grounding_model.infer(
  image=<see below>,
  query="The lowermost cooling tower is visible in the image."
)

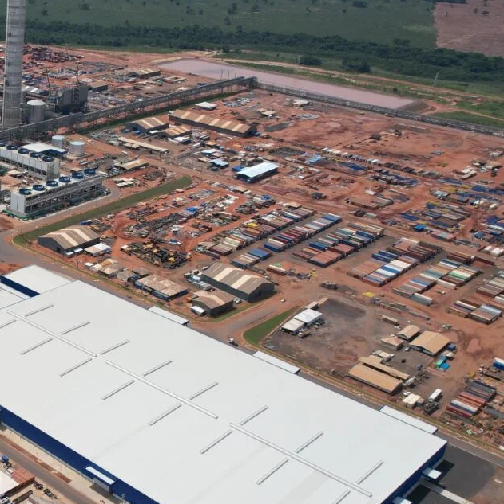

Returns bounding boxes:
[7,167,110,216]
